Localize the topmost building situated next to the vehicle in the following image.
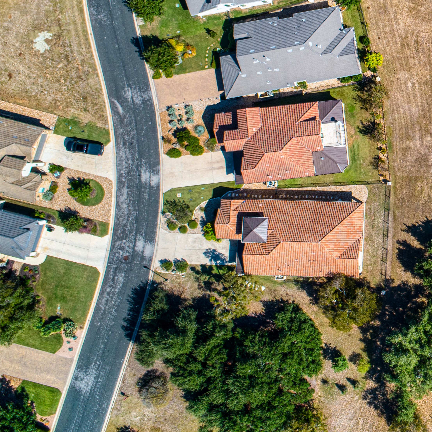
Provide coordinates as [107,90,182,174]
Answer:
[0,116,53,203]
